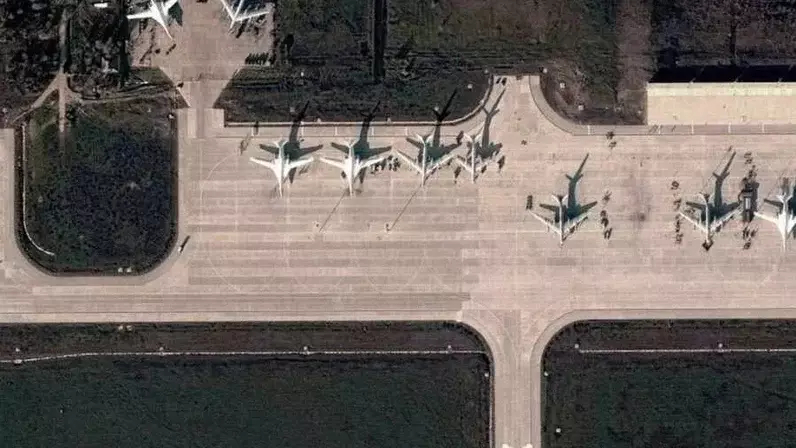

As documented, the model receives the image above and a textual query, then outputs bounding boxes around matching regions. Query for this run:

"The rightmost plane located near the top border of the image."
[220,0,270,30]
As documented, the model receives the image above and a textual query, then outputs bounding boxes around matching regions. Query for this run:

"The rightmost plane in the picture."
[756,187,796,247]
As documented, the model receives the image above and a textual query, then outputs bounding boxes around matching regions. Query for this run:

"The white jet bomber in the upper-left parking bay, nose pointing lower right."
[125,0,173,40]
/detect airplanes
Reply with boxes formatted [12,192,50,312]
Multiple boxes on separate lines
[533,186,591,238]
[125,0,173,40]
[252,139,315,201]
[680,188,738,241]
[322,139,385,200]
[220,0,270,30]
[756,187,796,247]
[444,124,501,180]
[396,128,453,182]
